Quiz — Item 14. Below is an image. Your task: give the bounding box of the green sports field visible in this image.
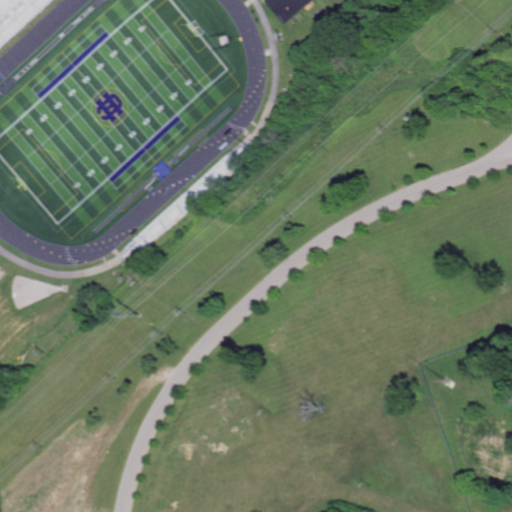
[0,0,248,244]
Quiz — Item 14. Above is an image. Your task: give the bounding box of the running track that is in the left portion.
[0,0,266,264]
